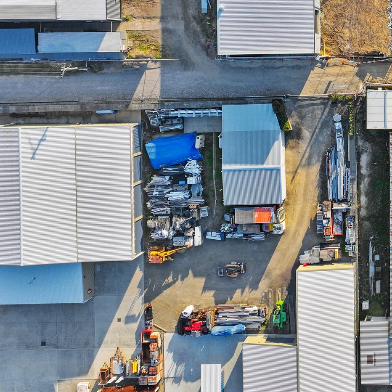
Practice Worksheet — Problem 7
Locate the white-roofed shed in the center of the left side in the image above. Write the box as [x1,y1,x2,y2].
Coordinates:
[0,122,152,304]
